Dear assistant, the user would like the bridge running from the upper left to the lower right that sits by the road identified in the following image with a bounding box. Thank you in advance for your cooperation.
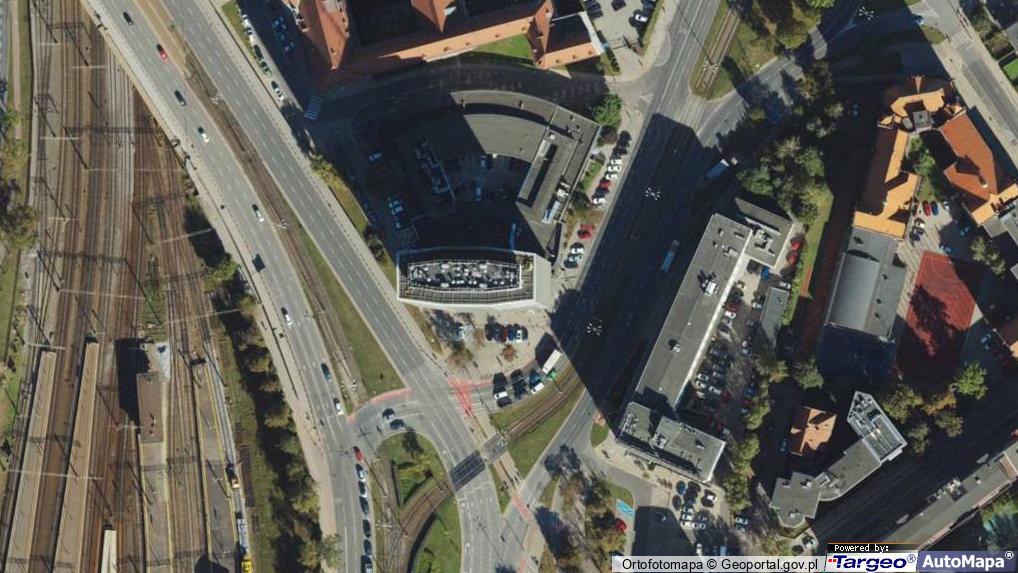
[81,0,224,212]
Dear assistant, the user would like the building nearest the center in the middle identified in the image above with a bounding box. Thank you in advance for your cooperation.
[398,247,552,313]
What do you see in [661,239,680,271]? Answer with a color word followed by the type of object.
blue vehicle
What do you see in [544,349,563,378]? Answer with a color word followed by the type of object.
white vehicle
